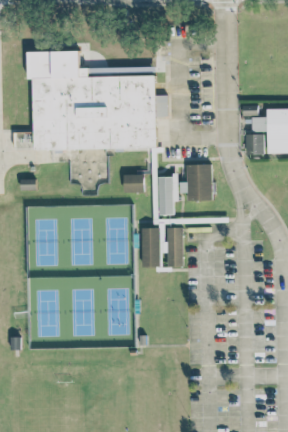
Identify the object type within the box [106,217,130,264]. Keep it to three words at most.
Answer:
tennis court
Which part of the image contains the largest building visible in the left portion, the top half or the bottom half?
top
